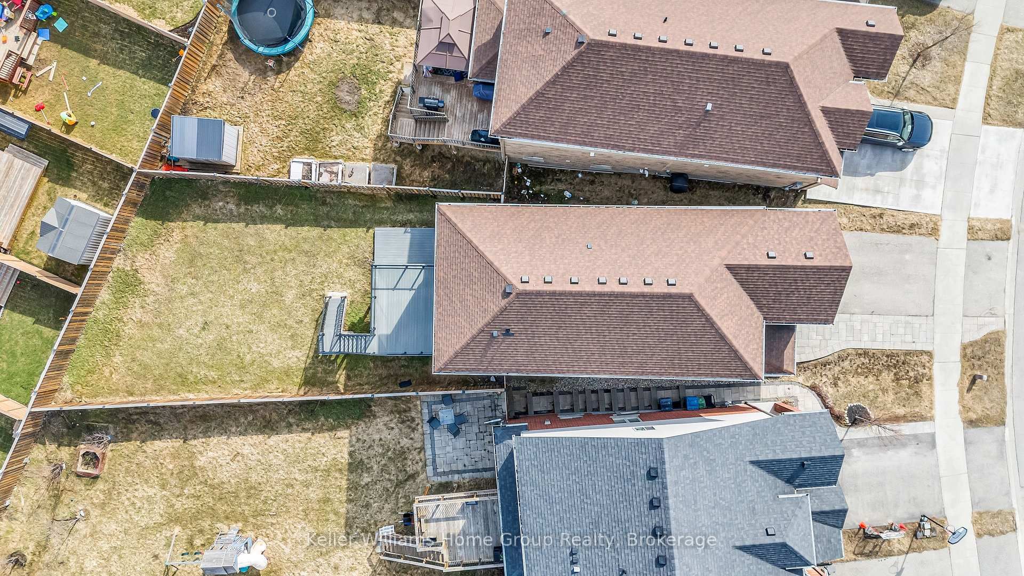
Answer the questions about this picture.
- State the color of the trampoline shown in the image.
blue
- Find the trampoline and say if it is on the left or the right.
left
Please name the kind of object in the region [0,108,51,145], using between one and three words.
shed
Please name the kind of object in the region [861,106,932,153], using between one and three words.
car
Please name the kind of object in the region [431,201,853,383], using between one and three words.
house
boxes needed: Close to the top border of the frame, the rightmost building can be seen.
[467,0,905,193]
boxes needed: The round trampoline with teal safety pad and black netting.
[222,0,319,60]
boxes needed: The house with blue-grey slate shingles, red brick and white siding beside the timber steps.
[492,402,849,576]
